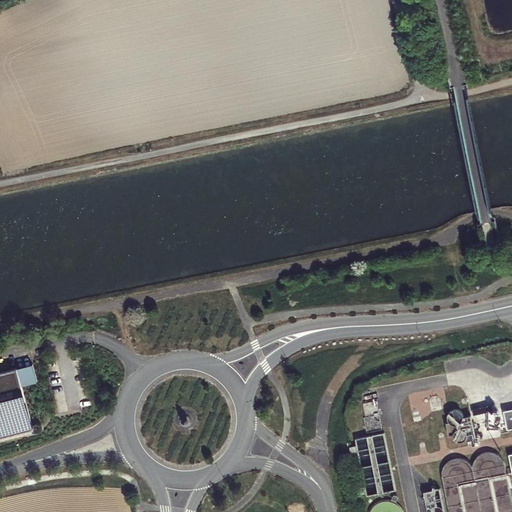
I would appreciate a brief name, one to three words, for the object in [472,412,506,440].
building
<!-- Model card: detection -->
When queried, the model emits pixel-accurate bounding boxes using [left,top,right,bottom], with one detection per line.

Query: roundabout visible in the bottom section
[116,350,256,489]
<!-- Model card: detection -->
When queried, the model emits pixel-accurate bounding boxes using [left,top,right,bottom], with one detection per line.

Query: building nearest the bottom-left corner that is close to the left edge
[0,366,38,442]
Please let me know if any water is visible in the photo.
Yes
